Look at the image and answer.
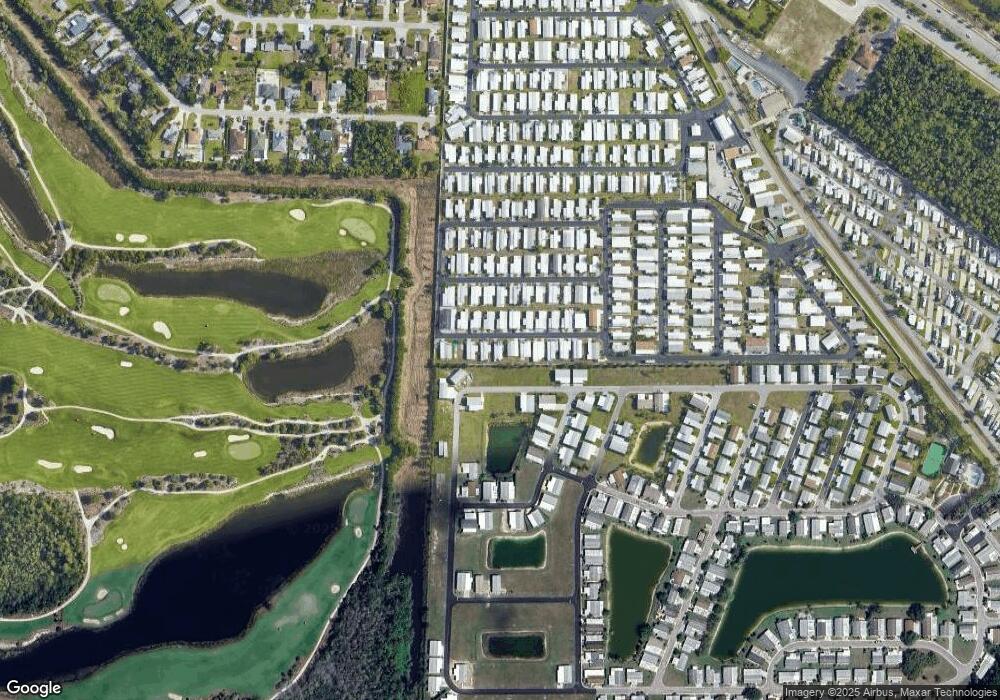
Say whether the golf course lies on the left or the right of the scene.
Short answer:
left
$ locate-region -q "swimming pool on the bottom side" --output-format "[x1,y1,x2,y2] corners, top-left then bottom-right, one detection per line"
[964,464,985,486]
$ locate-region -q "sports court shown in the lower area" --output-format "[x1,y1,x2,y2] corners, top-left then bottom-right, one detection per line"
[922,442,946,476]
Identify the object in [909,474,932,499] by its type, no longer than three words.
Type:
house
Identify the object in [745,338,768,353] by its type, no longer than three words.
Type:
house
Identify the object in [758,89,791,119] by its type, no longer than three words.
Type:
building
